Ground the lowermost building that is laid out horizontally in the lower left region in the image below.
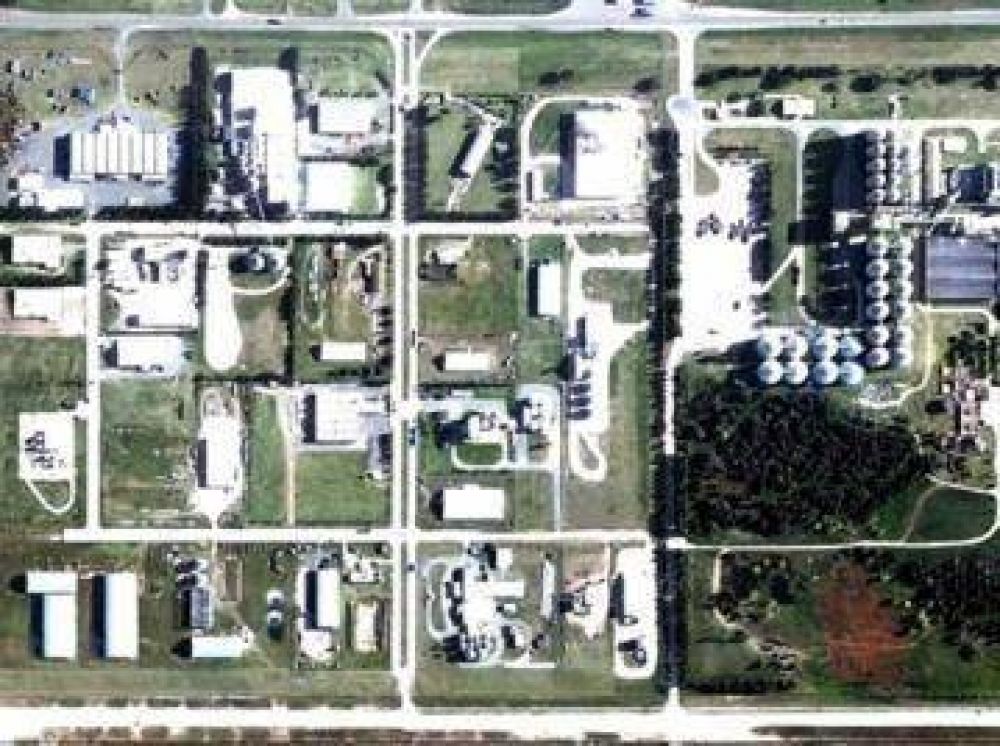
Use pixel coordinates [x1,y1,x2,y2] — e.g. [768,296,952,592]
[190,637,243,658]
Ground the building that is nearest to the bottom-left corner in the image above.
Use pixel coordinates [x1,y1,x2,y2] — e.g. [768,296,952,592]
[43,593,77,658]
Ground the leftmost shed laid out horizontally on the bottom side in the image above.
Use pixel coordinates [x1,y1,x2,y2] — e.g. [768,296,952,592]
[25,573,77,593]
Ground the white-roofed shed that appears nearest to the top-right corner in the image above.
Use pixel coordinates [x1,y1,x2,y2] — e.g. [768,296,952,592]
[944,137,968,150]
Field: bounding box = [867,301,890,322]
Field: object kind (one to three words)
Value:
silo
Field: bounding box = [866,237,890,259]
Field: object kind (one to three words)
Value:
silo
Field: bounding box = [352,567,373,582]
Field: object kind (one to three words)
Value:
house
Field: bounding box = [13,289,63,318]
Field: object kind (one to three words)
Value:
building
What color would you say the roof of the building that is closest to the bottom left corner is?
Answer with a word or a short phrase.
white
